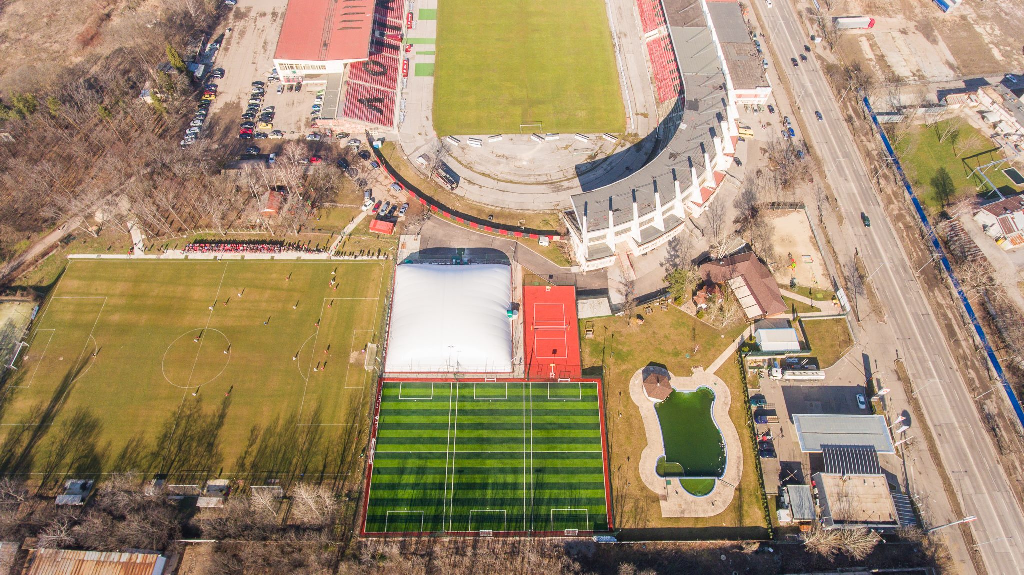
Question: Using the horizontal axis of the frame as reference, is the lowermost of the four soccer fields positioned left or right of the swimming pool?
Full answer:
To the left of the swimming pool is where the lowermost of the four soccer fields appears.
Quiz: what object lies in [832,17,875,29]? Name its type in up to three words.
vehicle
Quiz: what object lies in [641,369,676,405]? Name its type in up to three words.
building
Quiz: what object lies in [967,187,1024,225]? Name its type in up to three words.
building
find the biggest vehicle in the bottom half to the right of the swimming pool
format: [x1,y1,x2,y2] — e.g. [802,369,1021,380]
[772,366,828,380]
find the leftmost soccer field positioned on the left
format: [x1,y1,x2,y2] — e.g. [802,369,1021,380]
[0,301,37,383]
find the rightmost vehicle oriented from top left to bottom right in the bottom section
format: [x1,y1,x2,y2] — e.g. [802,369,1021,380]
[854,393,868,409]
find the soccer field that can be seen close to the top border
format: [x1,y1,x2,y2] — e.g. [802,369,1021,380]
[433,0,625,135]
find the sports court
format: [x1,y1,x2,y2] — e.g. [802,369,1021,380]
[524,285,582,377]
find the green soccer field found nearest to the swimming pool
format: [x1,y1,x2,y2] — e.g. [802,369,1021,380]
[360,378,616,538]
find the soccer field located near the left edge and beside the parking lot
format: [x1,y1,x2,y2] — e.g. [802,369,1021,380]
[0,259,391,487]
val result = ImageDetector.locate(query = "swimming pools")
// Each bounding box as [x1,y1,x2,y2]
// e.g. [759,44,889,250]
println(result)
[629,366,743,519]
